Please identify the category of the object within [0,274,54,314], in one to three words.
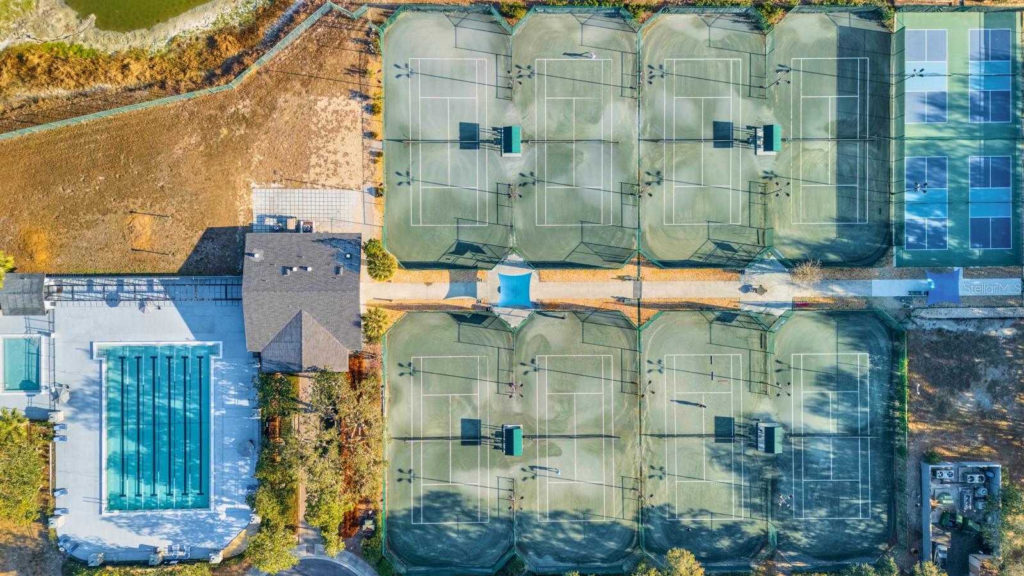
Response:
building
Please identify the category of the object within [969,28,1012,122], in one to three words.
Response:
sports court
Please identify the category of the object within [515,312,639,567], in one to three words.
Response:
tennis court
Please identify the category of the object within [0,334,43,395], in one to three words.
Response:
swimming pool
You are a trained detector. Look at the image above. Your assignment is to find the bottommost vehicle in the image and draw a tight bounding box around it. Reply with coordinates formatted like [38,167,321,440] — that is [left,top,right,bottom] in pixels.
[933,533,949,562]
